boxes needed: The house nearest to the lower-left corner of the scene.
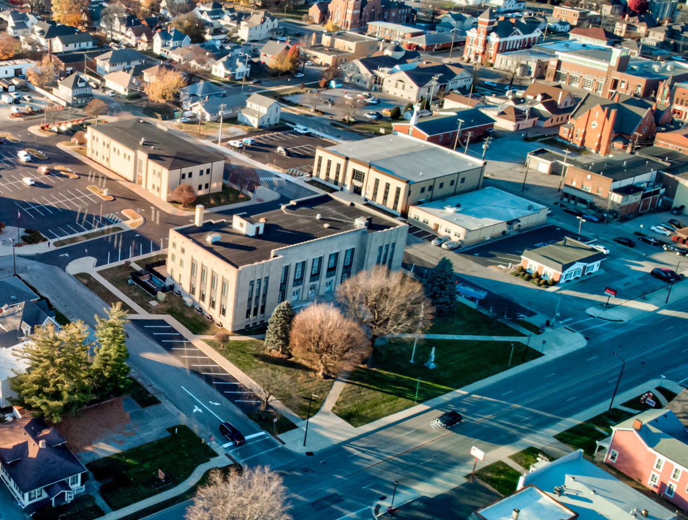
[0,417,92,507]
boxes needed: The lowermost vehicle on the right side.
[432,412,460,429]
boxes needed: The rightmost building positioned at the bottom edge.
[603,403,688,507]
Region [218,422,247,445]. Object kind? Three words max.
car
